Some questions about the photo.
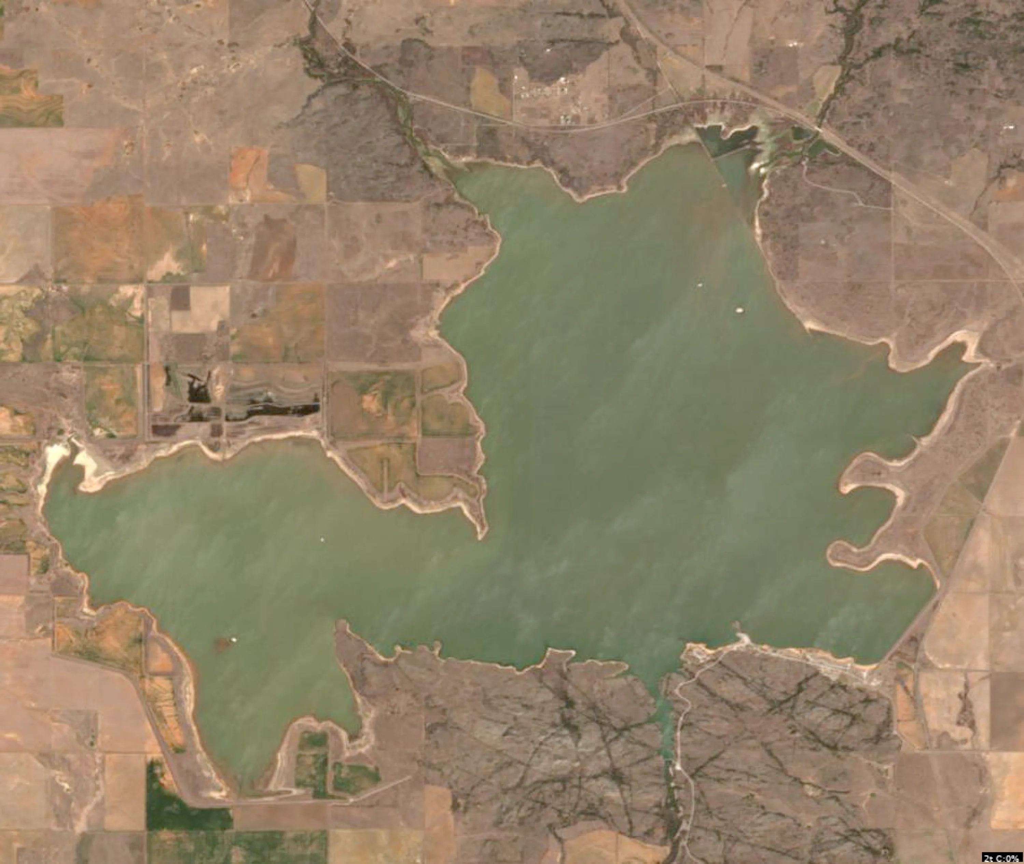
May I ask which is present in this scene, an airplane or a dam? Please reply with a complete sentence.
Visible in the photo is a dam.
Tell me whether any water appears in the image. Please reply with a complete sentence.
Yes, some water is visible.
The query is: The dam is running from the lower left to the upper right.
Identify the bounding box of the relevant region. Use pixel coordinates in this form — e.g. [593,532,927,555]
[878,578,949,665]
